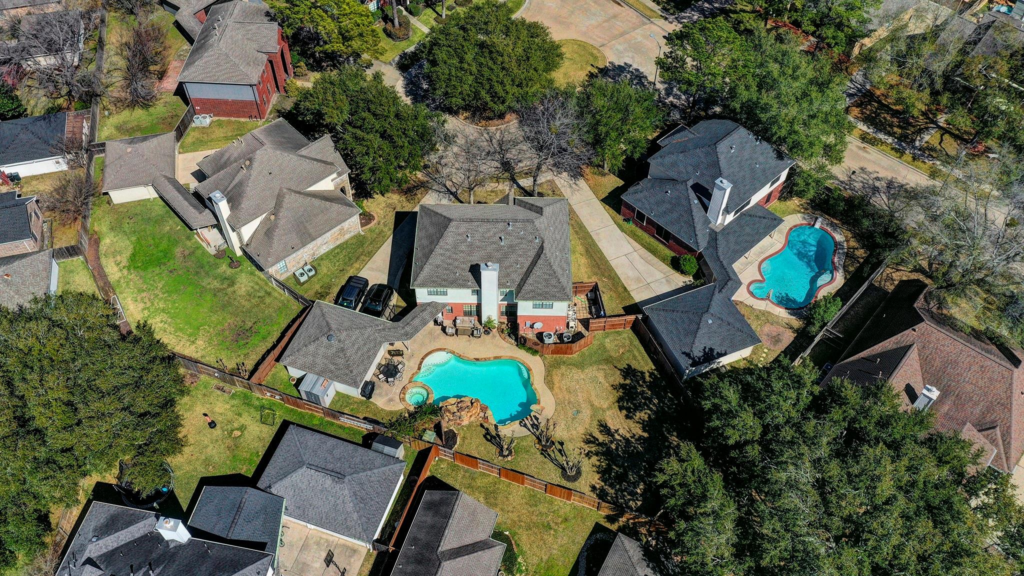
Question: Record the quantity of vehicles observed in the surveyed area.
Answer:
2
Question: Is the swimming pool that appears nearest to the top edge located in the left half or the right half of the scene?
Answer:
right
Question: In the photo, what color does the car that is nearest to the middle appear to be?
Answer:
black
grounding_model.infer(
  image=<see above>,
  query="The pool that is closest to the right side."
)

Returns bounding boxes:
[745,222,839,312]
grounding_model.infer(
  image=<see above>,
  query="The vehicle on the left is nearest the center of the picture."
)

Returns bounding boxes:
[359,277,395,318]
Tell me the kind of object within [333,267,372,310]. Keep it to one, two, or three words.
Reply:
car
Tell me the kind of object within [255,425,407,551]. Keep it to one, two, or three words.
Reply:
building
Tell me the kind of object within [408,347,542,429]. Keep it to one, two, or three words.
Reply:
swimming pool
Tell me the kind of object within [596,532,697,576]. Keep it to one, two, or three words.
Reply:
house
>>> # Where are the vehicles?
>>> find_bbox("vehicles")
[359,277,395,318]
[333,267,372,310]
